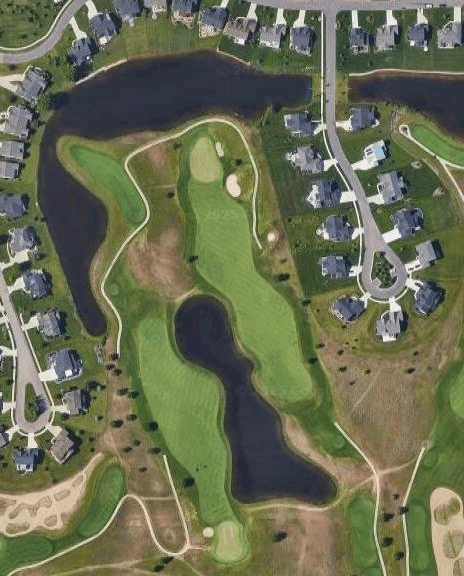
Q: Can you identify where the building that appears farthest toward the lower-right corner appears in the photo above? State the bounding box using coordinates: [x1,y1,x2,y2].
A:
[374,310,407,342]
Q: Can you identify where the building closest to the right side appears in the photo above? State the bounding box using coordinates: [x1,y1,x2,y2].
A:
[432,18,464,52]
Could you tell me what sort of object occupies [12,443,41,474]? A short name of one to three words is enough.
house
